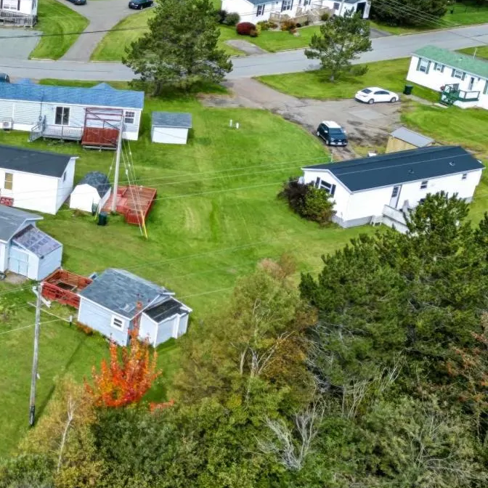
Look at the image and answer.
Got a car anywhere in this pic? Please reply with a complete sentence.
Yes, there's a car down there.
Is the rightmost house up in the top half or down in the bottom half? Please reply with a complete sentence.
The rightmost house is in the top half of the image.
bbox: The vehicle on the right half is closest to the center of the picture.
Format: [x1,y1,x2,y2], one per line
[318,112,347,143]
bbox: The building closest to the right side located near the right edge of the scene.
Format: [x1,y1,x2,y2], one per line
[406,41,488,107]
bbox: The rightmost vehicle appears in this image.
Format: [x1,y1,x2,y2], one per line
[354,86,403,104]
